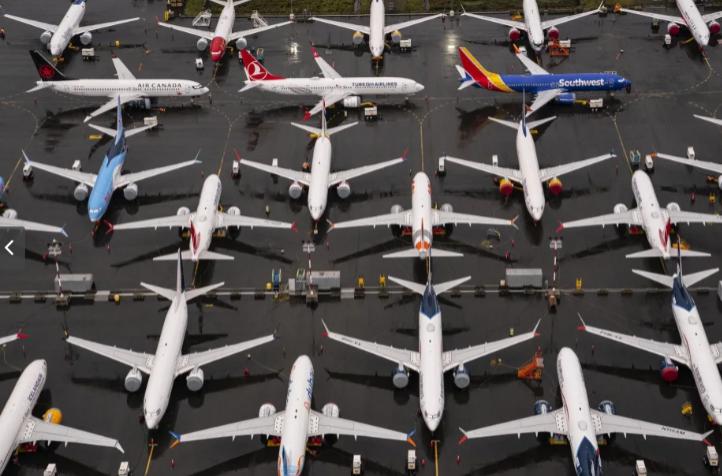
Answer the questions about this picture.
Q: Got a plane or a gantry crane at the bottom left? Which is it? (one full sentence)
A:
The feature located at the bottom left is a plane.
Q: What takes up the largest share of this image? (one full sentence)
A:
The largest share of the image is taken up by paved ground.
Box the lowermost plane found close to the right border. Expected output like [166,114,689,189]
[462,346,712,476]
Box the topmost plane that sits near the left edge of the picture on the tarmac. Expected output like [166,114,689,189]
[4,0,143,61]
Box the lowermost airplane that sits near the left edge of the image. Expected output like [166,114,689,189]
[0,352,121,471]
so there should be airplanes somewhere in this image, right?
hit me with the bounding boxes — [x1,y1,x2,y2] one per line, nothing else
[235,45,423,121]
[0,352,121,471]
[25,94,201,226]
[462,346,712,476]
[556,166,722,259]
[105,169,299,261]
[63,247,282,432]
[4,0,143,61]
[460,0,602,56]
[155,0,297,67]
[322,244,541,429]
[0,174,68,238]
[454,42,630,118]
[616,0,722,51]
[306,0,448,61]
[325,166,519,259]
[234,93,410,224]
[23,49,208,125]
[439,89,617,221]
[577,238,722,422]
[170,346,416,476]
[0,319,27,347]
